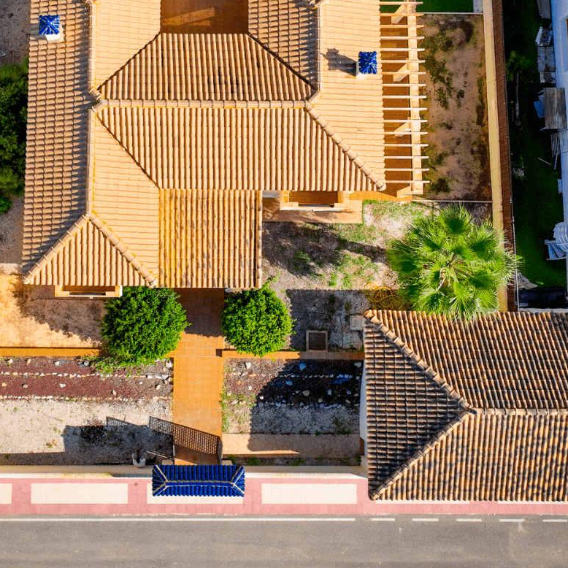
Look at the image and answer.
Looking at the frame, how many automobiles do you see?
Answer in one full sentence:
The count of automobiles is 0.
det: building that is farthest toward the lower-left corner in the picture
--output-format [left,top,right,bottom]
[149,463,246,500]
